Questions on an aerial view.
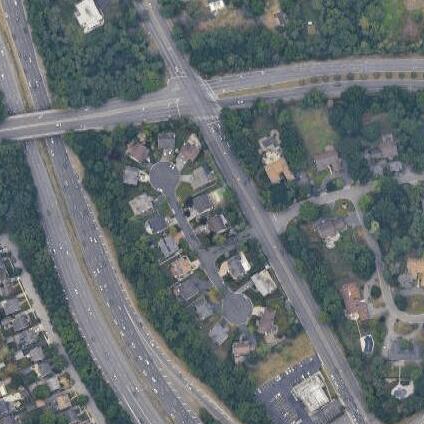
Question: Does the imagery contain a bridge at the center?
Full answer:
No, there's no bridge to be seen at the center.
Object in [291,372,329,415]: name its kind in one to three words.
building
